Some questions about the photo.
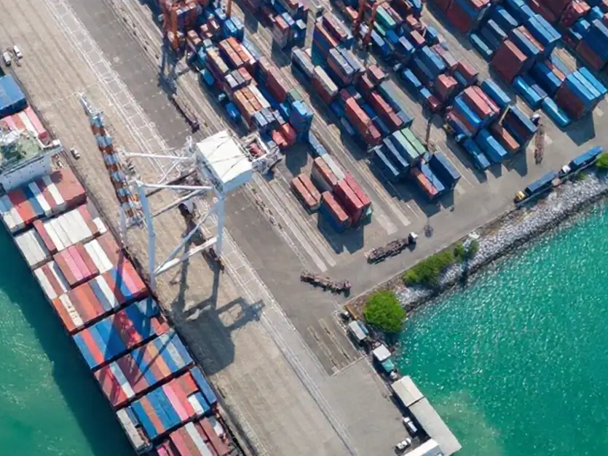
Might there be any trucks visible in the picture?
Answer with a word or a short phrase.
Yes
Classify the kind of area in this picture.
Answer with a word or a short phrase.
port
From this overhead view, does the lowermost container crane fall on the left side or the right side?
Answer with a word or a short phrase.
left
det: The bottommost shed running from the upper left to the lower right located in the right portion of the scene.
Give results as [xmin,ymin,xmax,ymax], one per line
[404,396,464,456]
